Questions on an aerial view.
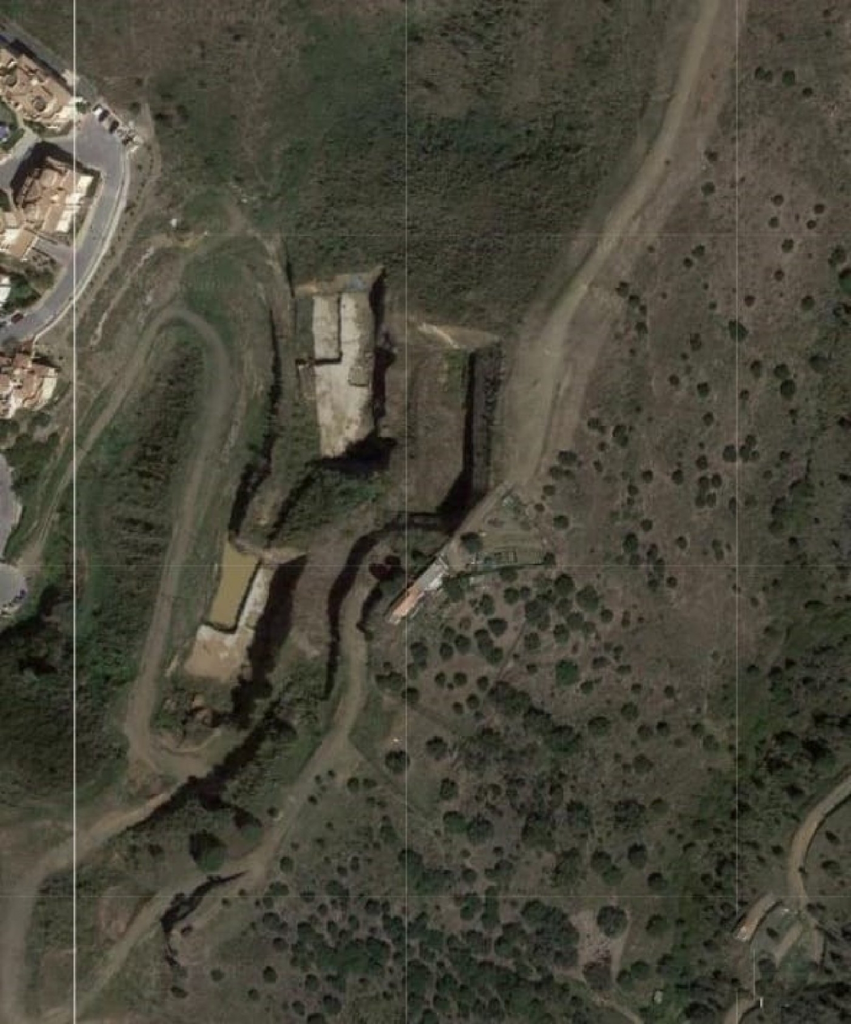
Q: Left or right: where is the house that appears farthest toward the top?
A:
left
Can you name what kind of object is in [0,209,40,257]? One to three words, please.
house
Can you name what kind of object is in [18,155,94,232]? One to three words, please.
house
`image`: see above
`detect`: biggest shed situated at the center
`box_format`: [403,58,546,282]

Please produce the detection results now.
[389,557,449,625]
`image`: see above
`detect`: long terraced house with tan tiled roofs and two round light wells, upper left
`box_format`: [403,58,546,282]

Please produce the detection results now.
[0,48,83,132]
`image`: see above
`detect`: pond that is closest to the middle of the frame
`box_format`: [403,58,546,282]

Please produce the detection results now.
[211,540,259,629]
